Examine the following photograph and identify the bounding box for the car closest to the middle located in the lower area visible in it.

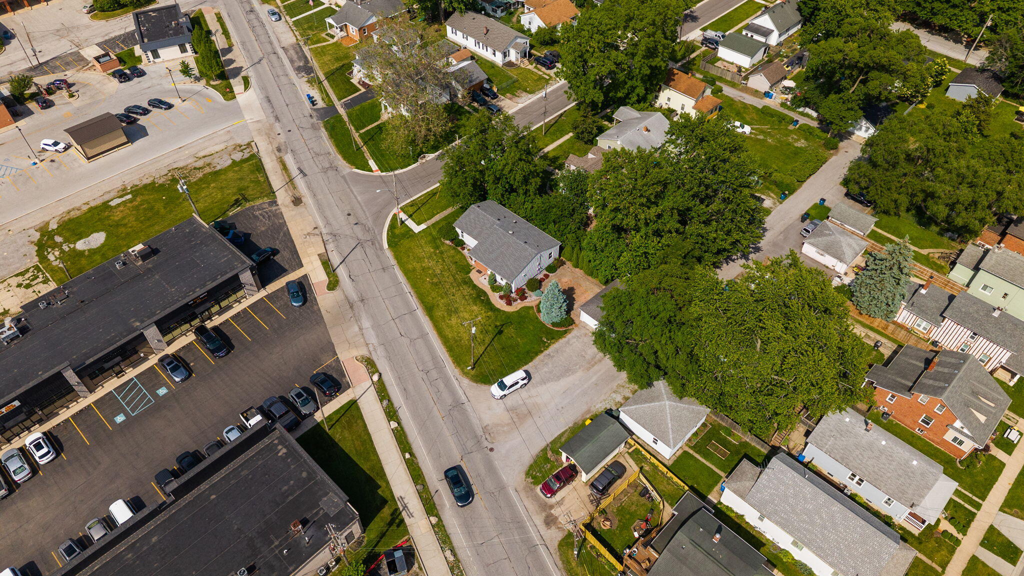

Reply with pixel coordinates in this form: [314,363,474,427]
[491,369,530,400]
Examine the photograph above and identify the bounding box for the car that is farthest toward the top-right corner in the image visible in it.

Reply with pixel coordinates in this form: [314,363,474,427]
[843,188,873,209]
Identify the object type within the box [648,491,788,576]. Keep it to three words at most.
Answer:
house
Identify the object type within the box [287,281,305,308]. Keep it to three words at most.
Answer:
car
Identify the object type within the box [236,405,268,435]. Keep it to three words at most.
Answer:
vehicle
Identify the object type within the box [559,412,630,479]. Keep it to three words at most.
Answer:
building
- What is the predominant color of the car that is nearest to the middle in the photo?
white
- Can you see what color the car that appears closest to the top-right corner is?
black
